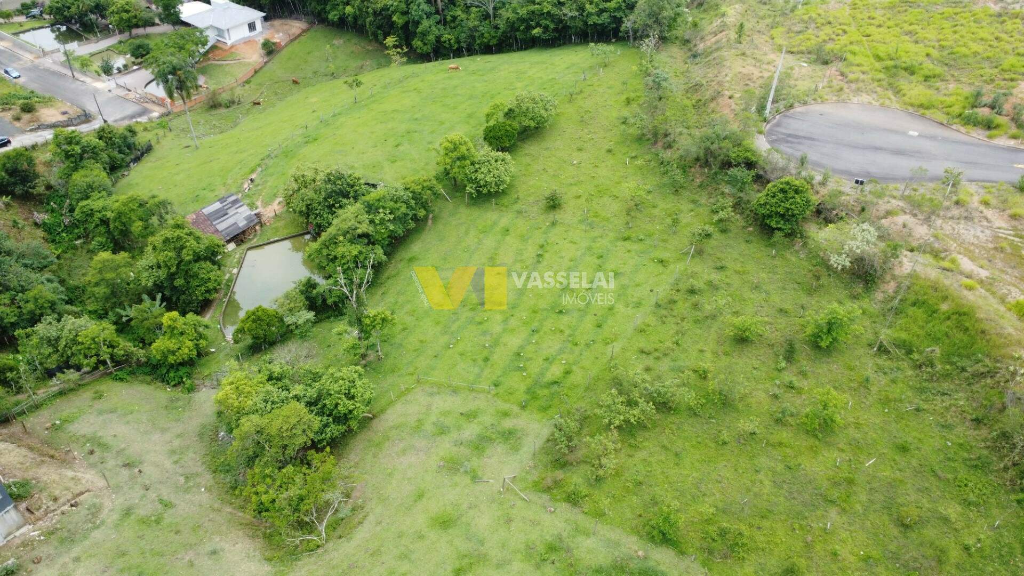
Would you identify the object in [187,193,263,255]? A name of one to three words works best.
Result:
barn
